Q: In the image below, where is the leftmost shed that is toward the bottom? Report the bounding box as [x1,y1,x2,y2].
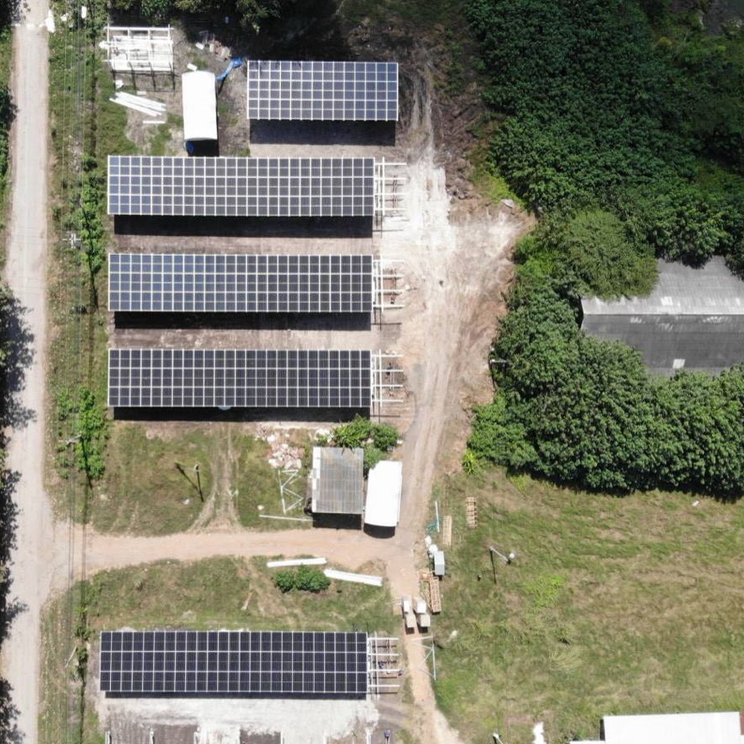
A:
[312,448,363,515]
